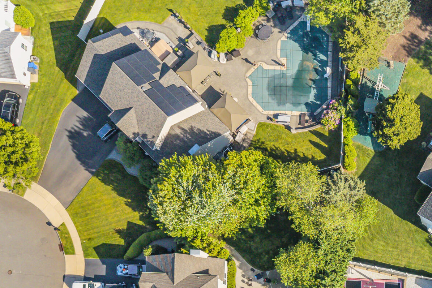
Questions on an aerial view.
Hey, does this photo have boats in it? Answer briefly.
No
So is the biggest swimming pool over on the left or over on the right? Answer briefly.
right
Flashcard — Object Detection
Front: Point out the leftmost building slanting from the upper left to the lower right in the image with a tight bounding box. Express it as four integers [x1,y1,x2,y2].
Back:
[75,25,235,166]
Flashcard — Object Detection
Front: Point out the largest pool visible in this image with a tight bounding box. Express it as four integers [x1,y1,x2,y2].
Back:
[242,17,332,115]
